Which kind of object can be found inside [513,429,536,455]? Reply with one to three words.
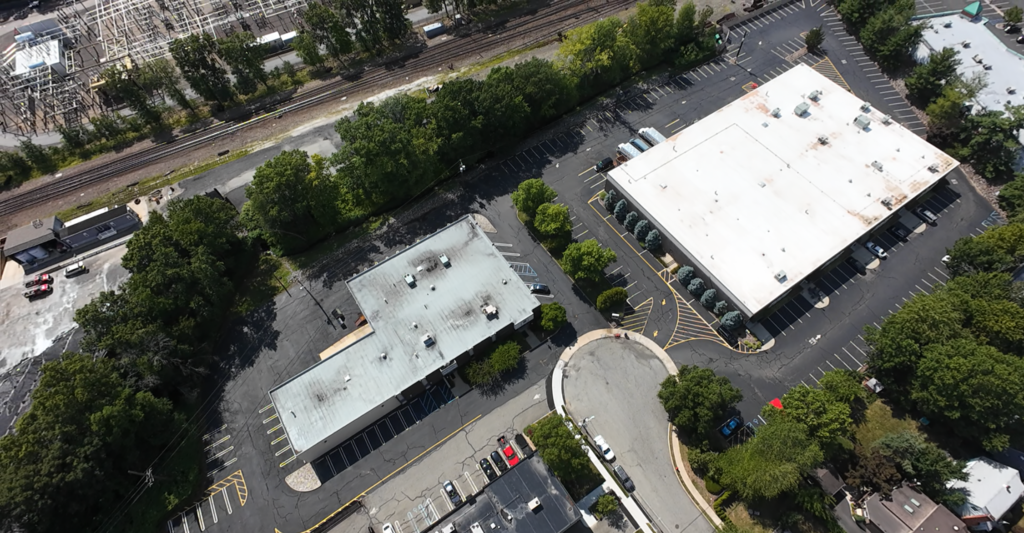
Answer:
truck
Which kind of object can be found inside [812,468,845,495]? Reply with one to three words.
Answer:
building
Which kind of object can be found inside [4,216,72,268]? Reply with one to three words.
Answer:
shed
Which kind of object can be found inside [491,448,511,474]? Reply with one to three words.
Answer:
car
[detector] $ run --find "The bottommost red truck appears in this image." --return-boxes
[497,437,521,468]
